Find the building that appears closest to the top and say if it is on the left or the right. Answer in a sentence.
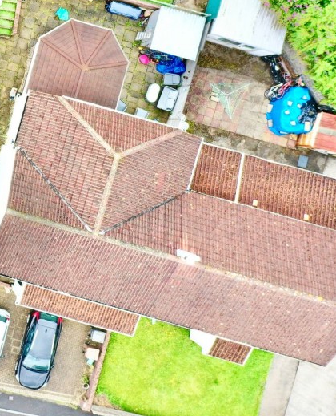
The building that appears closest to the top appears in the right half of the scene.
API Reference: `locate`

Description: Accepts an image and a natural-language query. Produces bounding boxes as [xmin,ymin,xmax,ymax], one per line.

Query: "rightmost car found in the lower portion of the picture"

[16,310,68,395]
